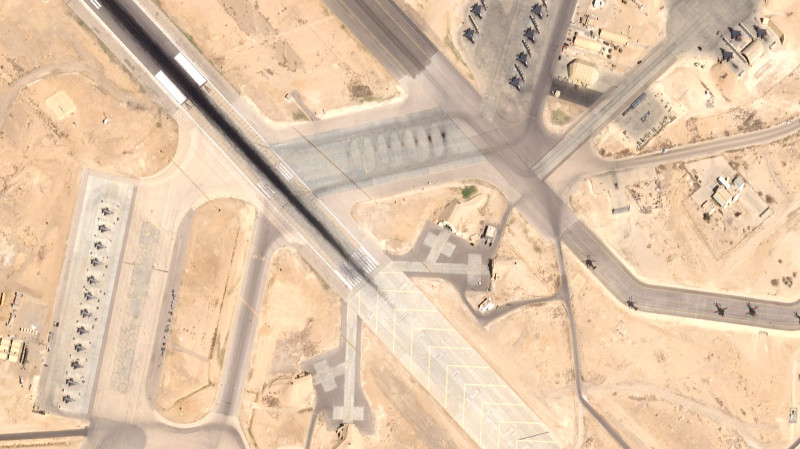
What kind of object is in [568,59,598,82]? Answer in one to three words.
hangar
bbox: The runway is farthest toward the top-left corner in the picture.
[82,0,207,105]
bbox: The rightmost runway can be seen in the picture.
[180,81,380,290]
